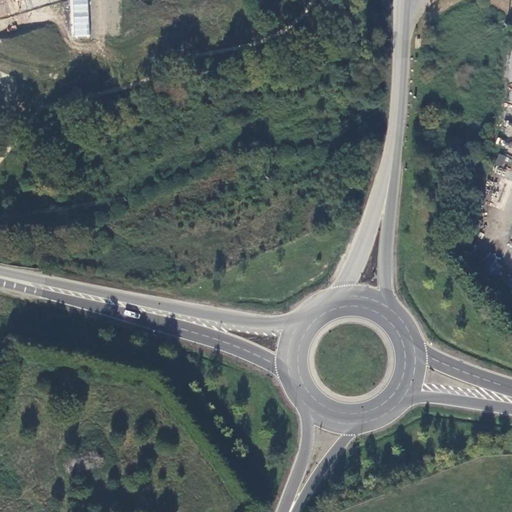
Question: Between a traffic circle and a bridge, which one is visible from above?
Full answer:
Of the two, only a traffic circle appears.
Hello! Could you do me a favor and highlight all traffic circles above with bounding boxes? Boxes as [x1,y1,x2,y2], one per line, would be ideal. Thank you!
[276,284,426,434]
